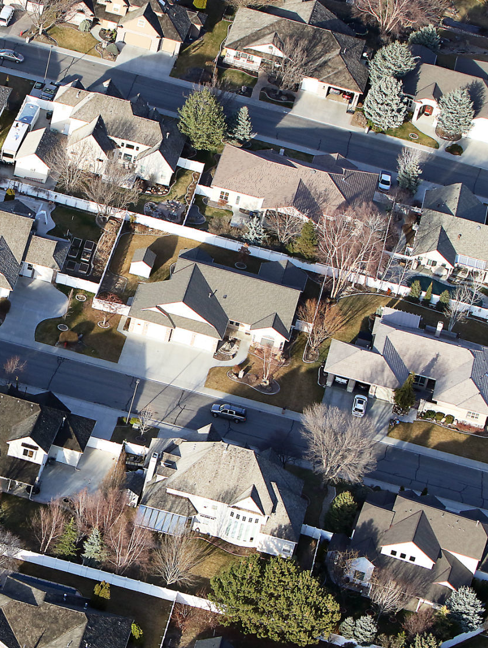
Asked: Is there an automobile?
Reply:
Yes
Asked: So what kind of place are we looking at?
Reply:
residential area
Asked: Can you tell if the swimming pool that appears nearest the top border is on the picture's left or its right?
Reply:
right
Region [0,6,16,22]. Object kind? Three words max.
car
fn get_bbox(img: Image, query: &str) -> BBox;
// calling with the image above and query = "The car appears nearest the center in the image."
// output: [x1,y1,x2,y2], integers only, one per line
[211,403,248,422]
